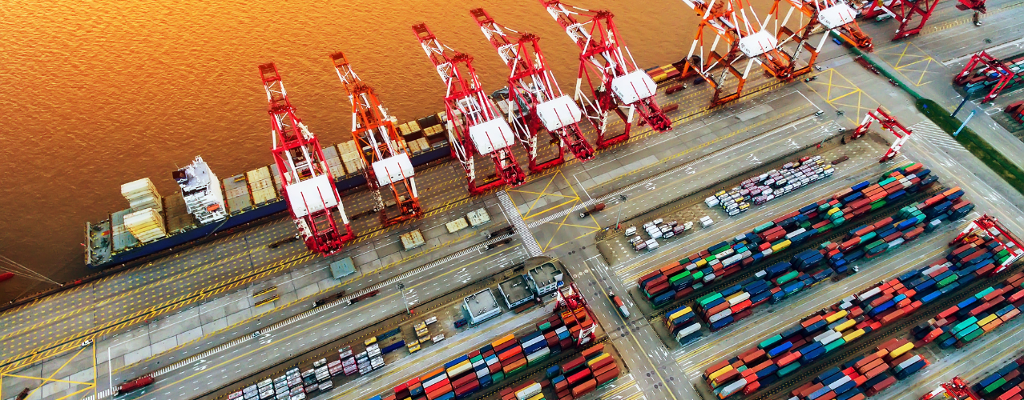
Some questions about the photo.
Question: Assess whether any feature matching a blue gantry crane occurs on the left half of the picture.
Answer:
No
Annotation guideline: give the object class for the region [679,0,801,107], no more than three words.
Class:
container crane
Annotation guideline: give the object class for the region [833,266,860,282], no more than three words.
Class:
vehicle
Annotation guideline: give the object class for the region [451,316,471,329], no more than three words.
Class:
vehicle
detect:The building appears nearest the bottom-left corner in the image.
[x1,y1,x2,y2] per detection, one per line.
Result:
[464,289,499,325]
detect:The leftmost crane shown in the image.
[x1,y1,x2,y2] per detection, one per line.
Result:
[257,61,360,258]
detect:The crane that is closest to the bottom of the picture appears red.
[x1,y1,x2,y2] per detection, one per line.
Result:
[918,373,983,400]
